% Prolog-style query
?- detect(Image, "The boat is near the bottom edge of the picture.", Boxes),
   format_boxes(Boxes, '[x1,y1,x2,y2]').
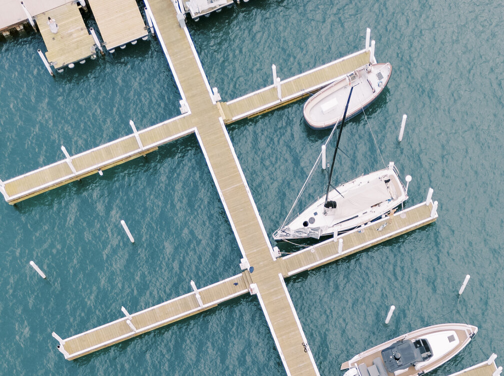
[341,325,479,376]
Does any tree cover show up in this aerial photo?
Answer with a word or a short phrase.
No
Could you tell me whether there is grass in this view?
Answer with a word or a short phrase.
No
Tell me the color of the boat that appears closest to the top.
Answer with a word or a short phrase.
white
